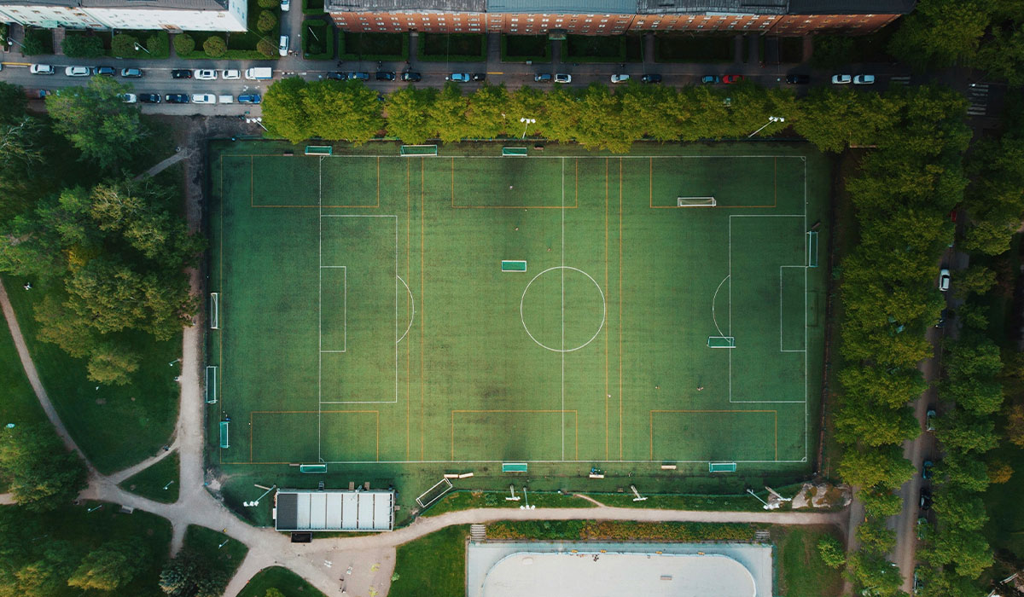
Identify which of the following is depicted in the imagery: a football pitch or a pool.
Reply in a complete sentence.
The image shows a football pitch.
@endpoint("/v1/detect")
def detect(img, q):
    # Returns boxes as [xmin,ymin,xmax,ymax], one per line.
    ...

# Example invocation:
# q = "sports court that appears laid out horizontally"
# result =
[465,540,775,597]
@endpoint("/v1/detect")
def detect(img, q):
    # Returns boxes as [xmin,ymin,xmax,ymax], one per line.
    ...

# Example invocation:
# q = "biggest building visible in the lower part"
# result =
[274,488,396,532]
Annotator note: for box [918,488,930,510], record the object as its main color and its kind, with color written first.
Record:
black vehicle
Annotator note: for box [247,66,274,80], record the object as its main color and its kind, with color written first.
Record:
white vehicle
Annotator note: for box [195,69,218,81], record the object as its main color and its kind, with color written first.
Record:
white vehicle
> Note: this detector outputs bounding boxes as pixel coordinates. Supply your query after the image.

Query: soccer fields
[208,141,830,529]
